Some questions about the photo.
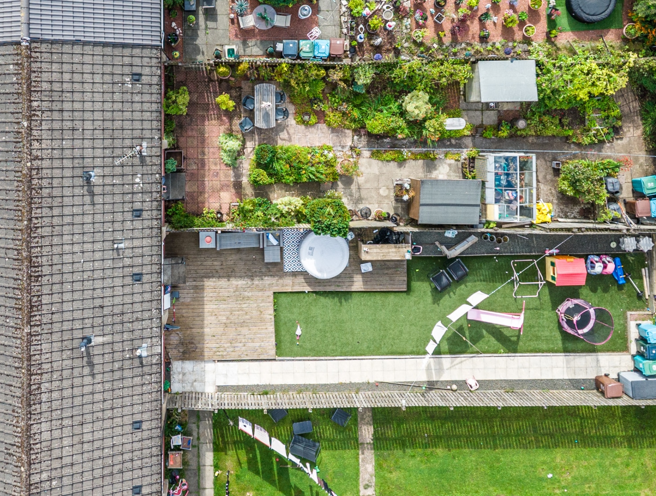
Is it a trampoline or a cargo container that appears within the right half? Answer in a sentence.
You can see a trampoline within the right half.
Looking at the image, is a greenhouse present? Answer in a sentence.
Yes, I can see a greenhouse in this picture.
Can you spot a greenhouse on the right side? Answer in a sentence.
Yes, you'll find a greenhouse on the right side.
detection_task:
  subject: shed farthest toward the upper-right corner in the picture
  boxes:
[465,60,539,103]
